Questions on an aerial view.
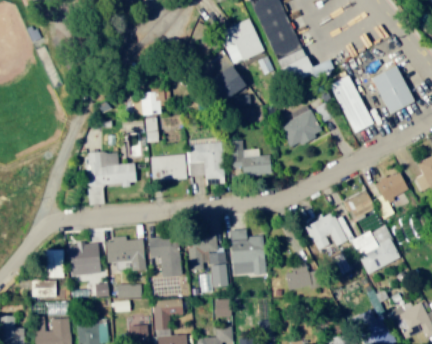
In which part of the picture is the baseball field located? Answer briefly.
top left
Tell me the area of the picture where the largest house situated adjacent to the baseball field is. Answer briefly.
left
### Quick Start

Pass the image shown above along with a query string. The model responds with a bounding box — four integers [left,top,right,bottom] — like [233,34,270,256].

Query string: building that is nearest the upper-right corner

[374,66,416,114]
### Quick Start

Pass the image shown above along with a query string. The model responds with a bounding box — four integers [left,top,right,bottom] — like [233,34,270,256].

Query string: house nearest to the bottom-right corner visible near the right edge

[400,304,432,342]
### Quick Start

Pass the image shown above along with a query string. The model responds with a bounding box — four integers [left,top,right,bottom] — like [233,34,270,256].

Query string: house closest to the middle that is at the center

[188,142,226,184]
